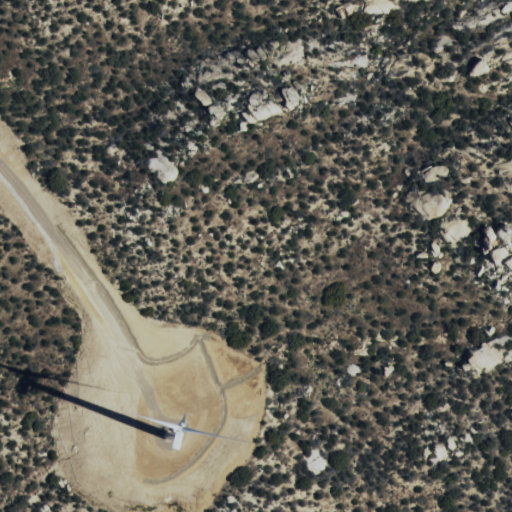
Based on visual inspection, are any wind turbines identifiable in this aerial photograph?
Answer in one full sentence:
Yes, a wind turbine is visible in the scene.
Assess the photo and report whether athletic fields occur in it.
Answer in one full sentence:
No, I can see no athletic field in this picture.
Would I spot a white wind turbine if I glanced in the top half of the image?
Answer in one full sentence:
No, no white wind turbine is visible in the top half of the image.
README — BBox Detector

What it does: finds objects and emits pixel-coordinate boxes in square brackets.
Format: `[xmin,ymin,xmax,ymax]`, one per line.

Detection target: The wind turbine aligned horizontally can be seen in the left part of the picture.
[110,408,250,451]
